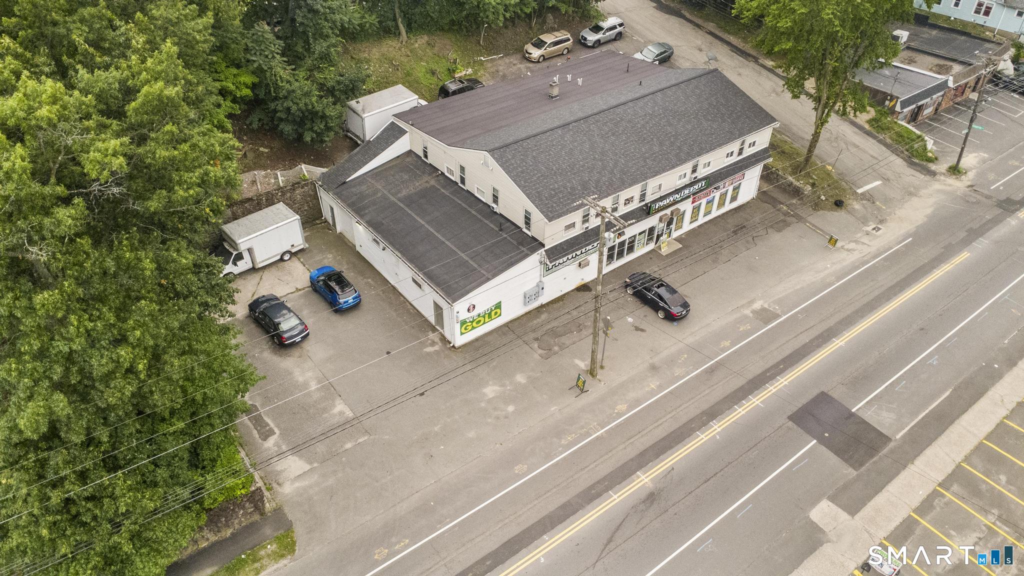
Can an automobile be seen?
Yes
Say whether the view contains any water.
No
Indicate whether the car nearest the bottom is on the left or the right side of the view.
left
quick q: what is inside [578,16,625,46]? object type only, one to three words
car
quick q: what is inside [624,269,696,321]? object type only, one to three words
car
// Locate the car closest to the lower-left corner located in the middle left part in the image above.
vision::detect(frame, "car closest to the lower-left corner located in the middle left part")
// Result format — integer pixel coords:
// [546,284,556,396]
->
[248,296,309,350]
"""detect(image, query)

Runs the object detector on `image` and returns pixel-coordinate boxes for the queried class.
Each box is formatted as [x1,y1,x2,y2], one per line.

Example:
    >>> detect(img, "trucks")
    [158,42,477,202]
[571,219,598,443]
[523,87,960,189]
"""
[198,205,309,290]
[347,87,433,143]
